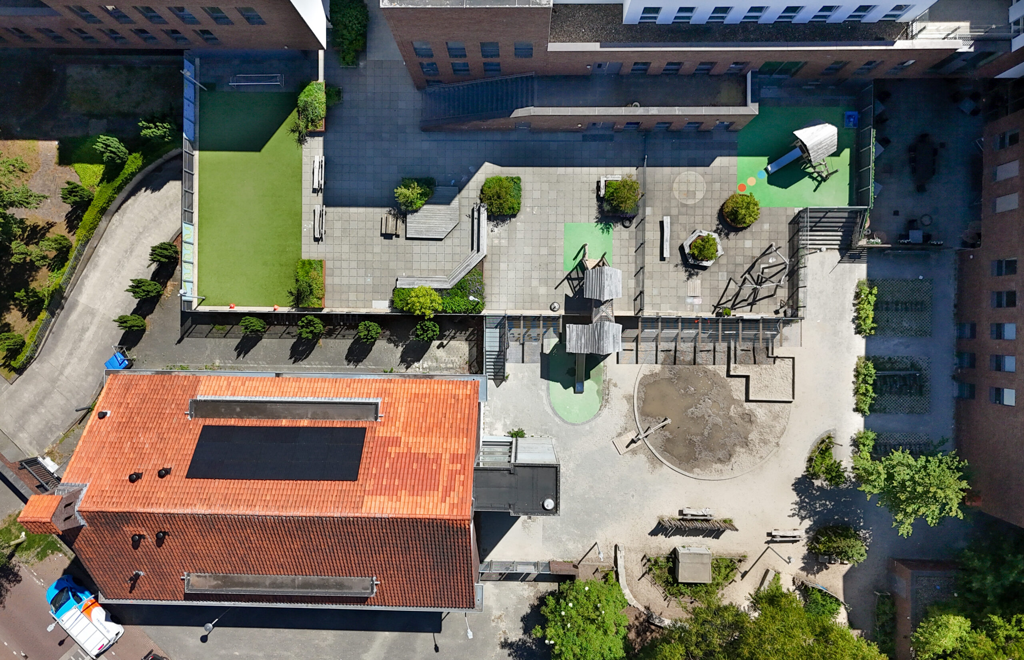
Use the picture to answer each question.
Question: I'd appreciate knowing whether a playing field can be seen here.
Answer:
Yes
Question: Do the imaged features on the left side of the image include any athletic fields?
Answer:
Yes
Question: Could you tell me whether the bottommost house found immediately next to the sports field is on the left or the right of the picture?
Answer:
left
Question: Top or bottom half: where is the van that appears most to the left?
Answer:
bottom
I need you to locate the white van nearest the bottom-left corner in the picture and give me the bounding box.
[50,576,129,660]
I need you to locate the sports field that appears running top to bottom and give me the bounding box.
[198,92,303,307]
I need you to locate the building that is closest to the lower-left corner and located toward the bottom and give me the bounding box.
[10,367,487,615]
